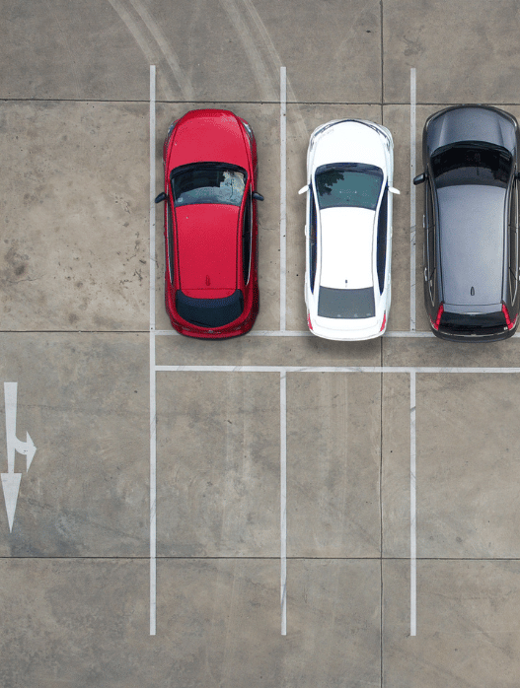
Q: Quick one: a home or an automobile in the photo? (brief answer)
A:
automobile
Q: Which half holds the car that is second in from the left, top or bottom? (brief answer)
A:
top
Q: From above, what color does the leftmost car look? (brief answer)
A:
red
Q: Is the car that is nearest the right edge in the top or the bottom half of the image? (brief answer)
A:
top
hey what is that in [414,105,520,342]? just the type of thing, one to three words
car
